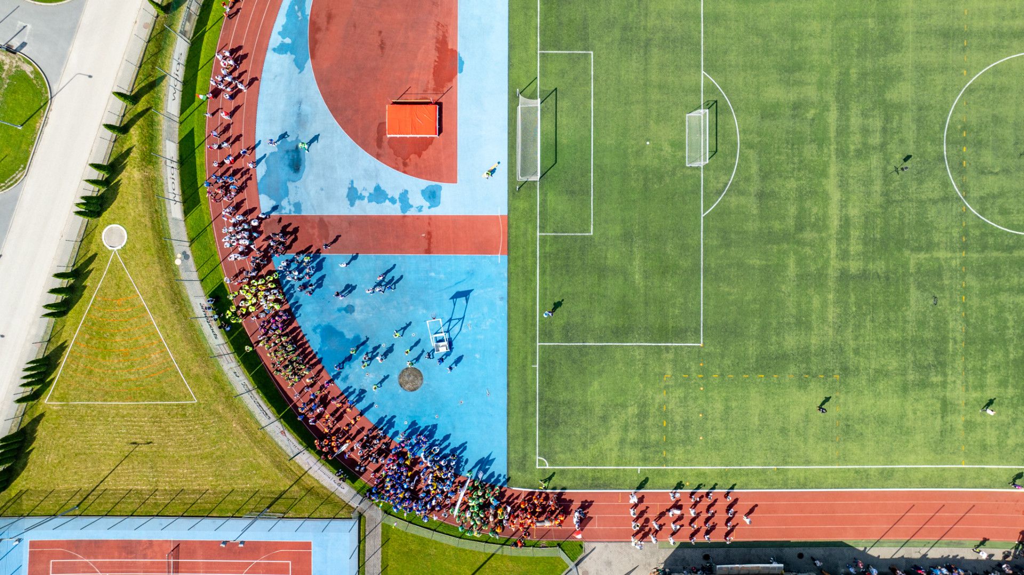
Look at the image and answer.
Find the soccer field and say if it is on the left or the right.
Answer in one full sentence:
The soccer field appears in the right half of the scene.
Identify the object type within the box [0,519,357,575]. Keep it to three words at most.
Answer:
sports court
